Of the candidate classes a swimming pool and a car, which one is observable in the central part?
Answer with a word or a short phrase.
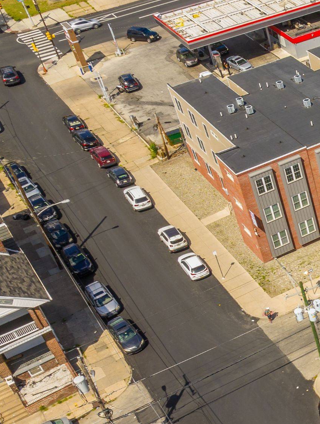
car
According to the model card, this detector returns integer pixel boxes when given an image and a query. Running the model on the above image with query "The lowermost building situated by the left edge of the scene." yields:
[0,250,73,424]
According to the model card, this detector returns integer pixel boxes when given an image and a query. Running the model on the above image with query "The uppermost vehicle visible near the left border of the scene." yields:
[0,67,22,88]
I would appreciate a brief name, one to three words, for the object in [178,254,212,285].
car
